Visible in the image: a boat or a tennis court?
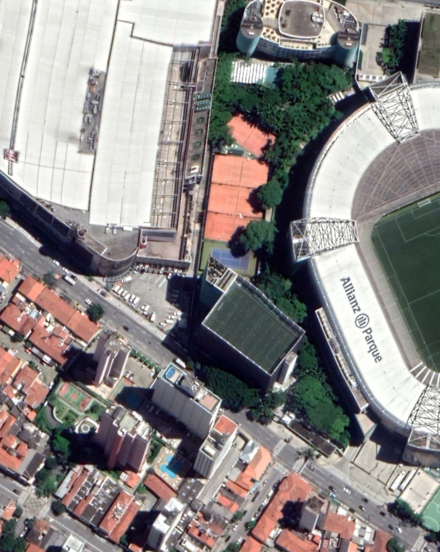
tennis court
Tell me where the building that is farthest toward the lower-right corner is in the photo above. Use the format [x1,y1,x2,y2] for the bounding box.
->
[368,529,393,552]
